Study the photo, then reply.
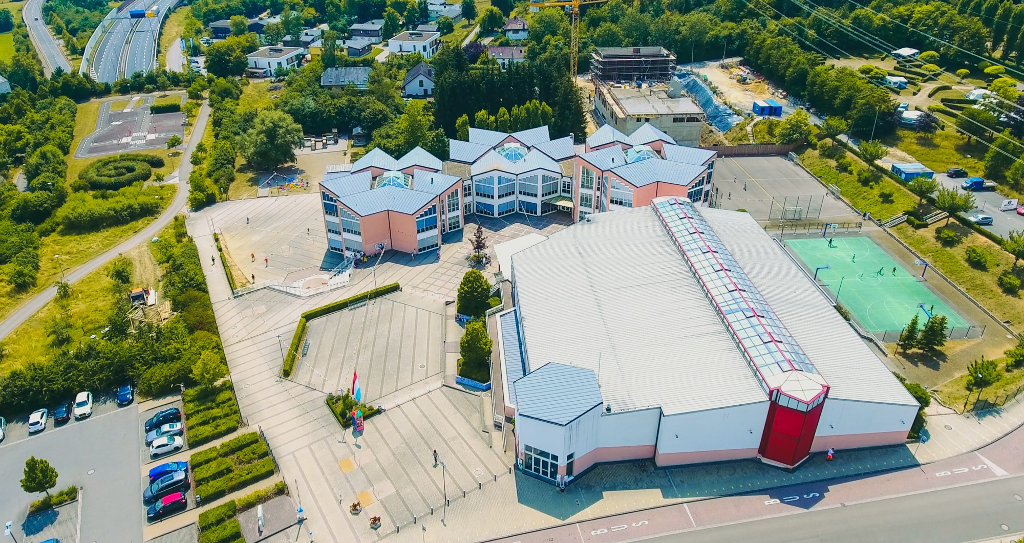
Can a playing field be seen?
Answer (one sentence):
Yes, the photo shows a playing field.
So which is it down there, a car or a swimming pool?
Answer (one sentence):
Looking from above, you can make out a car.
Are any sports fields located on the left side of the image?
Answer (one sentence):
No, looking on the left side of the image, there is no sports field.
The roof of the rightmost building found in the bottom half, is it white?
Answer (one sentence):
Yes, the roof of the rightmost building found in the bottom half is indeed white.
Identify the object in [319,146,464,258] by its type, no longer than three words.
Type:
building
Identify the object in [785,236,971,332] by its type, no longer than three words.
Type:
sports court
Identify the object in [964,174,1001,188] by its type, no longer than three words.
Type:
vehicle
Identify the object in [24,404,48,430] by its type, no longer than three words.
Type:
car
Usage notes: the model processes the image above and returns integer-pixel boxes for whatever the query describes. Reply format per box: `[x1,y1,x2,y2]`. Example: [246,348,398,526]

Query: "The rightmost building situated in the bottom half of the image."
[510,195,923,486]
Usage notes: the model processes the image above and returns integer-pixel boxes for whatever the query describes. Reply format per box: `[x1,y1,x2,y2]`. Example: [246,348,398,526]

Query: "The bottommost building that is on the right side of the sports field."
[889,163,935,185]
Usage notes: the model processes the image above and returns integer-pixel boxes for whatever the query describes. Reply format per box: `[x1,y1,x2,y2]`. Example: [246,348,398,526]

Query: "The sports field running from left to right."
[710,150,864,217]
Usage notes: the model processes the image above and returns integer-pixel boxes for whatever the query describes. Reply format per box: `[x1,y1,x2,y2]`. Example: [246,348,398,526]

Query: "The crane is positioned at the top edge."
[531,0,675,71]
